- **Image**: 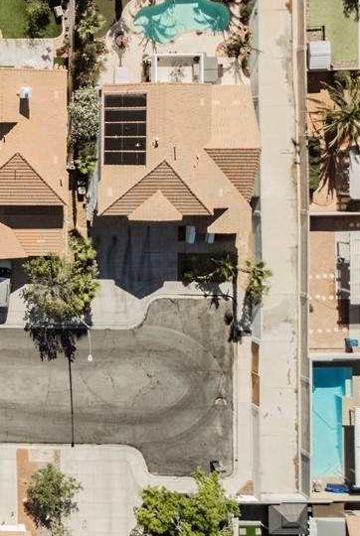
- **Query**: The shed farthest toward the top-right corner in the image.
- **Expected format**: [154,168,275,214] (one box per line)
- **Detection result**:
[308,40,333,70]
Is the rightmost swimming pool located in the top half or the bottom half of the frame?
bottom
